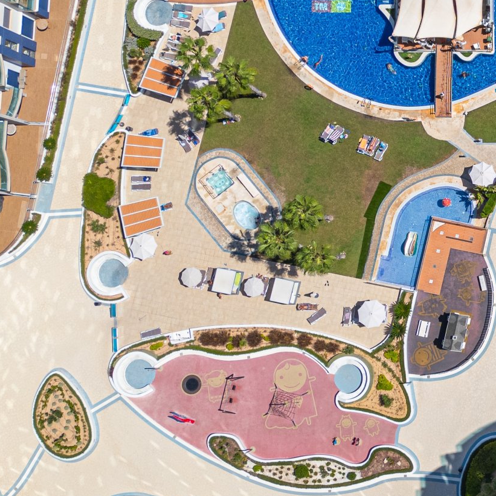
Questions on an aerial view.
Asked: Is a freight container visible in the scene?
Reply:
No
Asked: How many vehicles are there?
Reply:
0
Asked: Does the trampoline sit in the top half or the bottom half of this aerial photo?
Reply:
bottom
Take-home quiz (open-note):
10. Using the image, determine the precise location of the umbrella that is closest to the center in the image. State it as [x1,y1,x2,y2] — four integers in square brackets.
[243,275,266,297]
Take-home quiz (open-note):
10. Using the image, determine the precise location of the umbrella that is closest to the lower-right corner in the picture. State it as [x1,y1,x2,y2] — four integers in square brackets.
[358,300,386,328]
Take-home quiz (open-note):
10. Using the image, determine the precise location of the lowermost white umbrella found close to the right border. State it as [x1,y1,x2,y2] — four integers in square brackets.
[469,161,496,188]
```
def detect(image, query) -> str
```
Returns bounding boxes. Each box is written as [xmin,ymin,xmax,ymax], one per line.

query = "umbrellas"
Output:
[243,275,266,297]
[197,10,219,31]
[128,232,159,260]
[469,161,496,188]
[189,72,211,89]
[358,300,386,328]
[181,267,205,288]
